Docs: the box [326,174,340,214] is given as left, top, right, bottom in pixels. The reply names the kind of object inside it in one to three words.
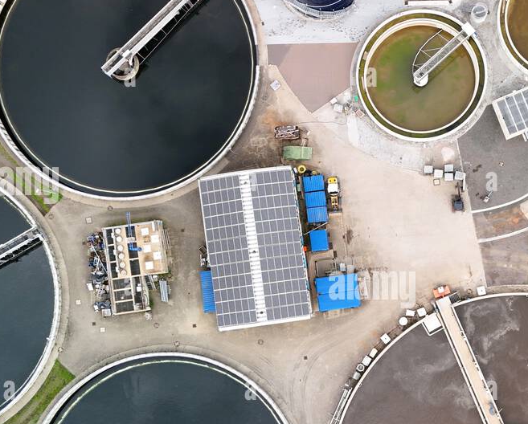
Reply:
work vehicle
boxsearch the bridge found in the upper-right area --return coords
[412,20,483,87]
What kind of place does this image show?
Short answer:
industrial area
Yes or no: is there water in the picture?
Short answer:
Yes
